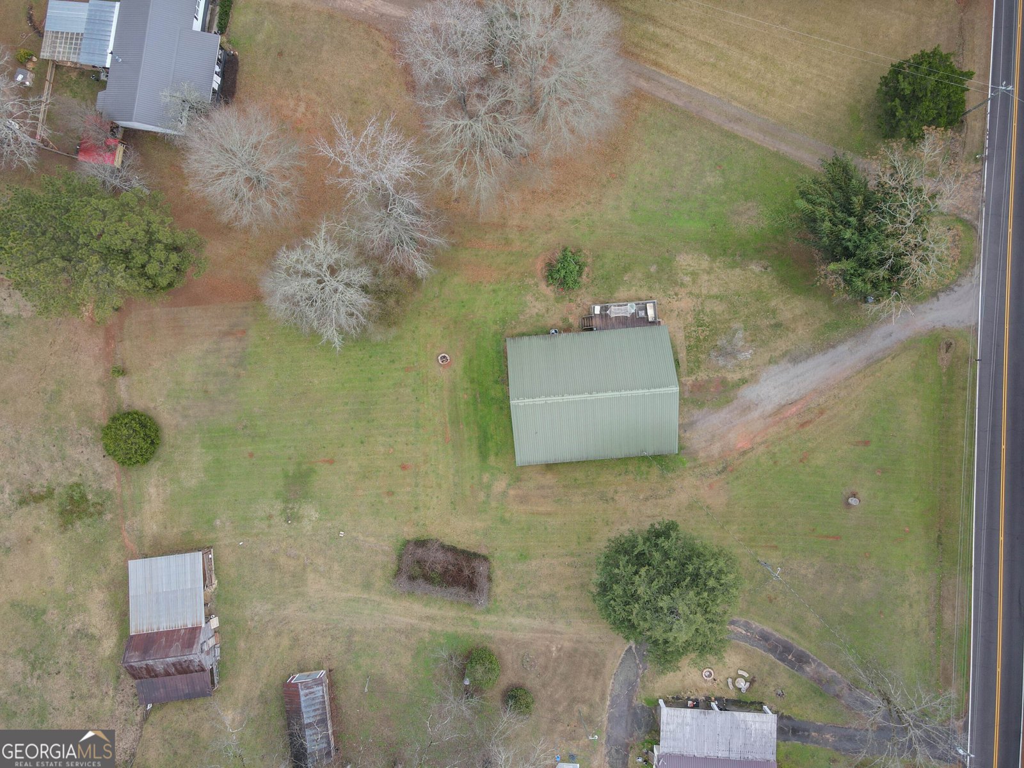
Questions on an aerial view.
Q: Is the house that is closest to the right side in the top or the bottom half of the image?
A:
bottom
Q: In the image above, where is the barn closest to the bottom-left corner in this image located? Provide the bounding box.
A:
[122,549,223,705]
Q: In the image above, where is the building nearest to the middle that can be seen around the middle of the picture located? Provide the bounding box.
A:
[506,325,679,465]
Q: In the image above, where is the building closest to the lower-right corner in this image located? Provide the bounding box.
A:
[649,697,777,768]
